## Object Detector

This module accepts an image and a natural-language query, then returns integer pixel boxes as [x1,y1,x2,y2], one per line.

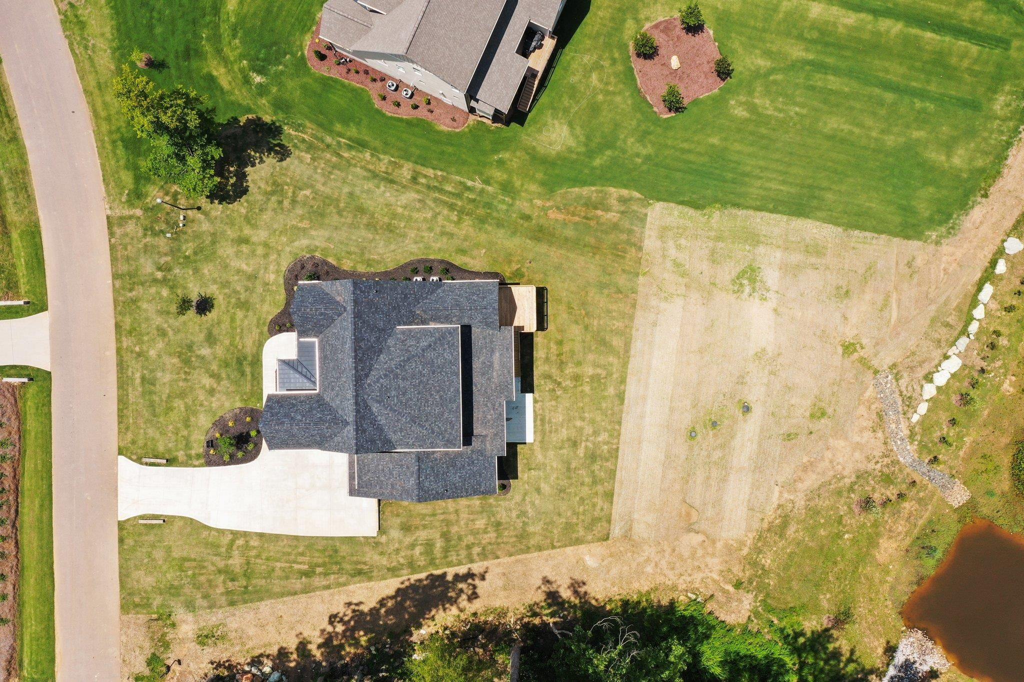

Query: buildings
[258,279,516,502]
[319,0,567,122]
